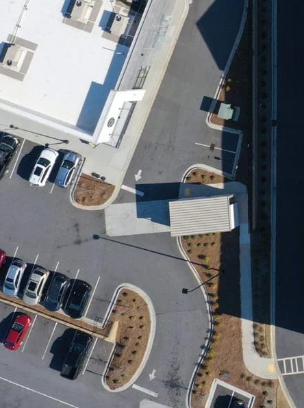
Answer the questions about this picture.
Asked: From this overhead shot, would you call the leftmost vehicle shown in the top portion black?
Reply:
Yes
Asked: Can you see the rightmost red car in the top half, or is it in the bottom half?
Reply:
bottom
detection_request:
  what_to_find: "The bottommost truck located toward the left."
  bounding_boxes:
[60,333,93,380]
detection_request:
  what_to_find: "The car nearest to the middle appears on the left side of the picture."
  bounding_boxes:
[57,150,82,187]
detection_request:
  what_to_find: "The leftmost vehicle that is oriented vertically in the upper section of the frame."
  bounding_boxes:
[0,135,20,182]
